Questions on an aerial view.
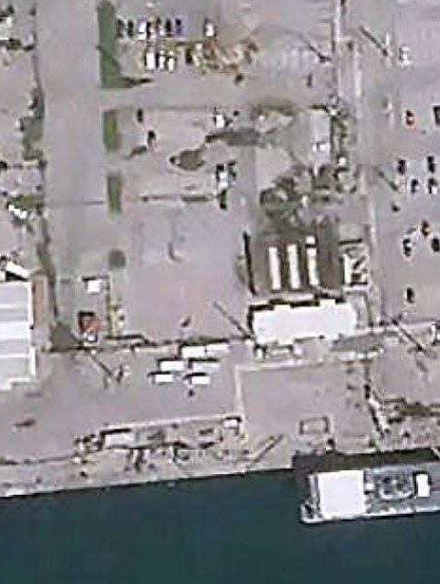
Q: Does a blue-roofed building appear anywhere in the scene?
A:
No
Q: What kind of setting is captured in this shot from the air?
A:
port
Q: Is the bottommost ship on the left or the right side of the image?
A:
right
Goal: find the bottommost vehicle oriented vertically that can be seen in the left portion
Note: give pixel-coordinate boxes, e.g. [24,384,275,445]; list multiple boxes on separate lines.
[82,313,95,342]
